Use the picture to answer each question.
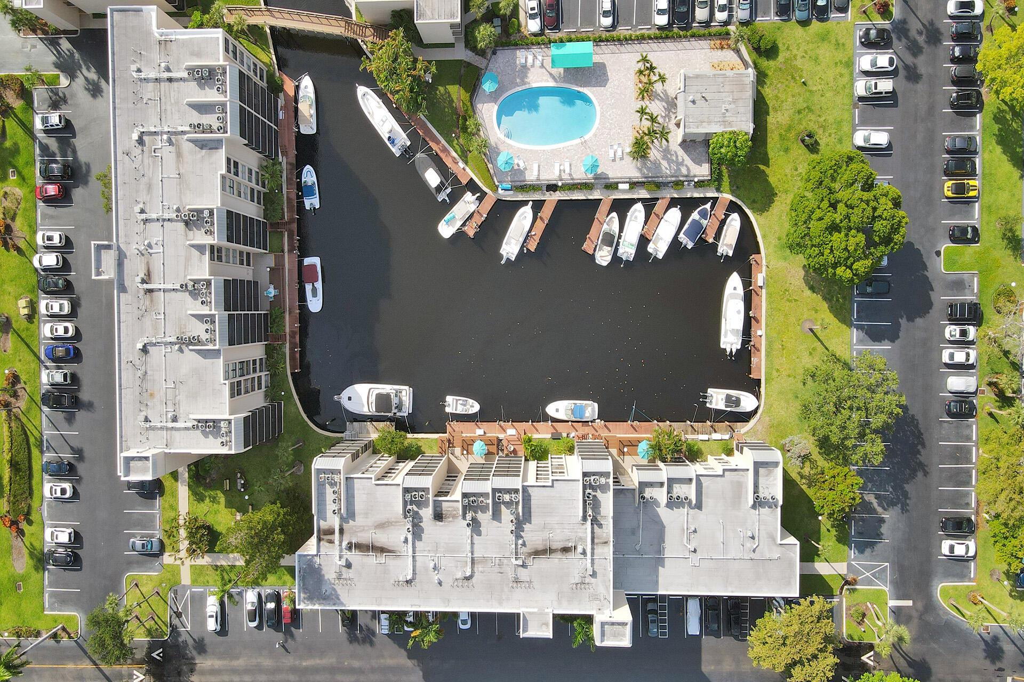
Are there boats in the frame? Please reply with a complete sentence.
Yes, there's a boat here.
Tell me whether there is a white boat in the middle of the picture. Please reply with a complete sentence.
Yes, a white boat shows up in the middle of the picture.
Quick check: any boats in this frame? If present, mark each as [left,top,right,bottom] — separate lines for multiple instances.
[719,272,746,363]
[438,395,481,414]
[303,257,324,312]
[593,212,621,270]
[441,185,485,237]
[694,387,759,413]
[298,74,317,135]
[419,154,451,211]
[718,213,742,266]
[302,164,321,219]
[546,400,599,421]
[619,198,647,272]
[332,385,414,416]
[498,200,532,272]
[353,79,412,166]
[644,199,678,268]
[677,197,713,256]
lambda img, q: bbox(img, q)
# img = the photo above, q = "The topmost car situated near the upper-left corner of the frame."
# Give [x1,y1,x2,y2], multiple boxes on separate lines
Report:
[36,113,68,131]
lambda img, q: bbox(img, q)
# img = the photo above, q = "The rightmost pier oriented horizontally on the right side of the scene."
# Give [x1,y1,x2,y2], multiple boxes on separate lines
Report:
[654,422,749,434]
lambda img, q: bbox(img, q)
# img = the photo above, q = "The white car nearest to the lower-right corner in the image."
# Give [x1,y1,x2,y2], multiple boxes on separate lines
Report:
[941,540,975,558]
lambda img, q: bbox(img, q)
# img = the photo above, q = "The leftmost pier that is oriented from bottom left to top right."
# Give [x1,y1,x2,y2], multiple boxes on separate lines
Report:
[464,193,497,238]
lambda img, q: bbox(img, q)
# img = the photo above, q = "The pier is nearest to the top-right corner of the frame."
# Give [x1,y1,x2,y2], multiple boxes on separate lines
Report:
[704,196,736,241]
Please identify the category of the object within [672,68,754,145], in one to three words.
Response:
building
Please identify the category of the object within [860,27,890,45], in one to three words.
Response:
car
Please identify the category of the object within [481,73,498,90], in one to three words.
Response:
umbrella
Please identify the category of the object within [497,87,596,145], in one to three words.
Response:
swimming pool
